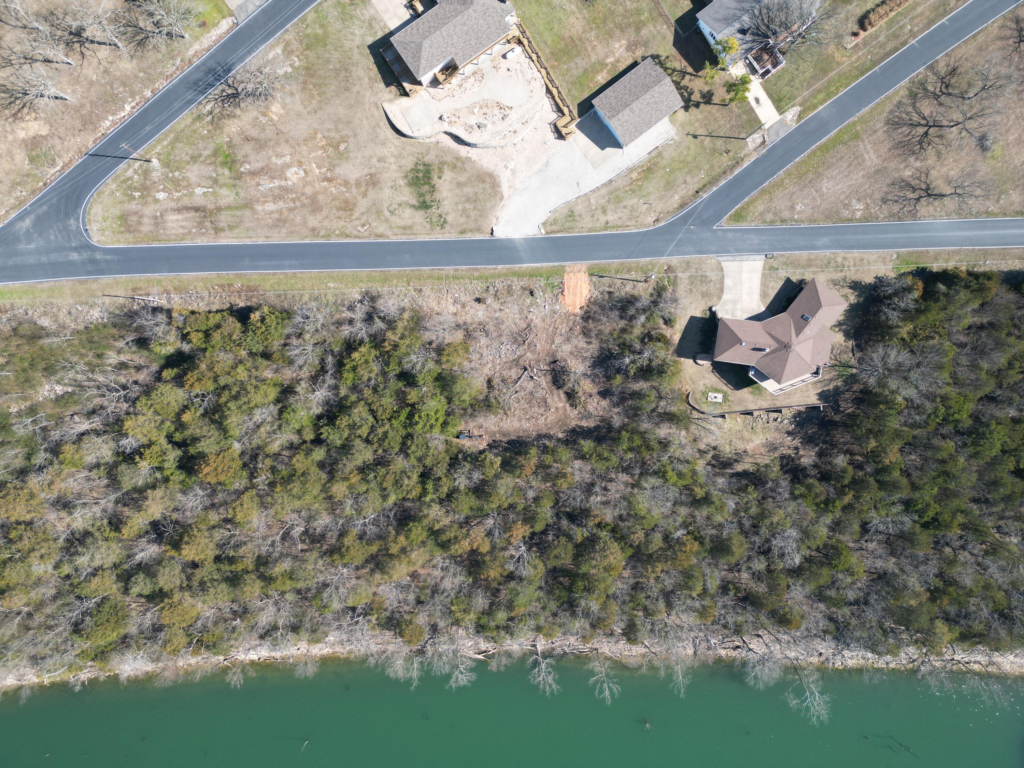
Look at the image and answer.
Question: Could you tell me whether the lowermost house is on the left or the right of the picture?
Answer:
right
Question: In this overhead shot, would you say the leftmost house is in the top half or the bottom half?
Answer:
top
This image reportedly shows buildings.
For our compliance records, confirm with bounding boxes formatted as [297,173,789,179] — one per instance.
[695,0,822,85]
[591,57,684,151]
[379,0,523,102]
[710,277,849,395]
